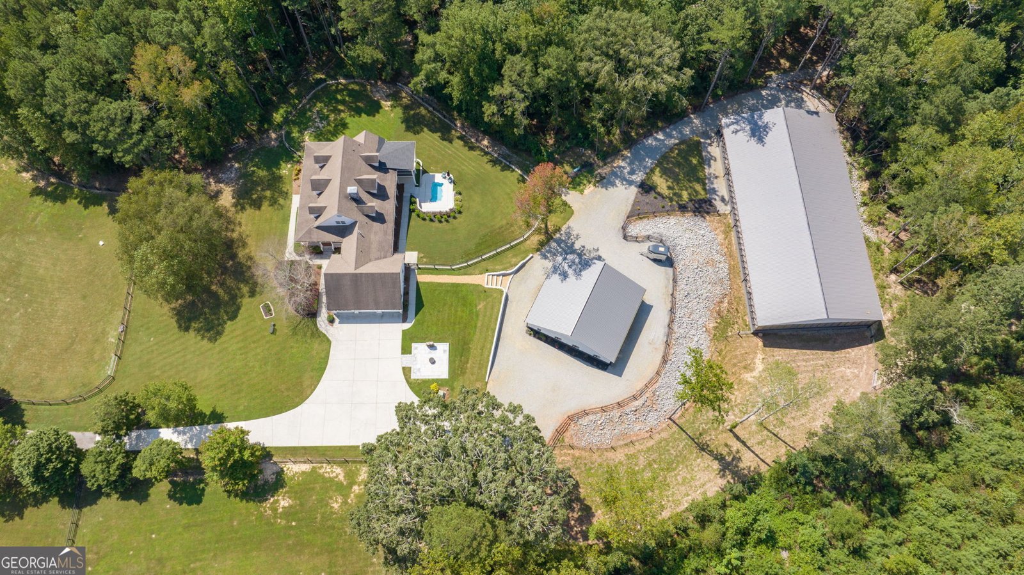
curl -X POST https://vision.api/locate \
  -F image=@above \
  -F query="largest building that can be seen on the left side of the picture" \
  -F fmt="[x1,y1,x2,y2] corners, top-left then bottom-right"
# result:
[294,130,417,314]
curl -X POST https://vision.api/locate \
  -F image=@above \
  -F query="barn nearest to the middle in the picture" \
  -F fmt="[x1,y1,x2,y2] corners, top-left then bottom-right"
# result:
[526,252,645,362]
